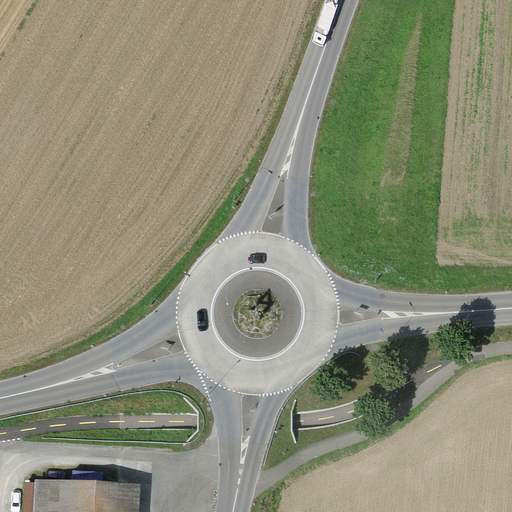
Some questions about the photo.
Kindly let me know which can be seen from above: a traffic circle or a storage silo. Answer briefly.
traffic circle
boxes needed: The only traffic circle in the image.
[176,231,340,401]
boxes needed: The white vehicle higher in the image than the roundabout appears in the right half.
[311,0,337,47]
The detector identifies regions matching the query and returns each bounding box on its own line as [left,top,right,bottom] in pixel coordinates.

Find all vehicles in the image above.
[311,0,337,47]
[248,254,266,264]
[10,490,21,512]
[196,310,208,332]
[46,470,67,480]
